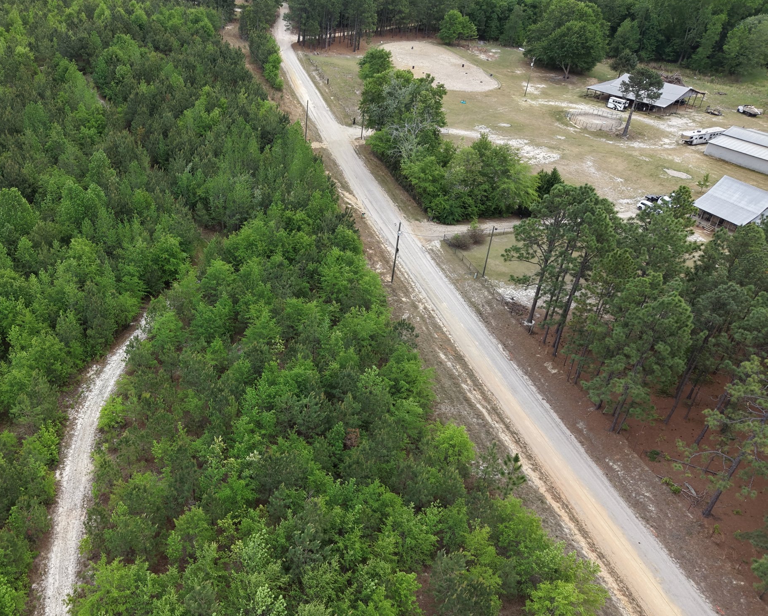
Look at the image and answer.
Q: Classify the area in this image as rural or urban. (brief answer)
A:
rural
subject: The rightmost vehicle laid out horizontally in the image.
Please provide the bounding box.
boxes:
[733,103,763,116]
